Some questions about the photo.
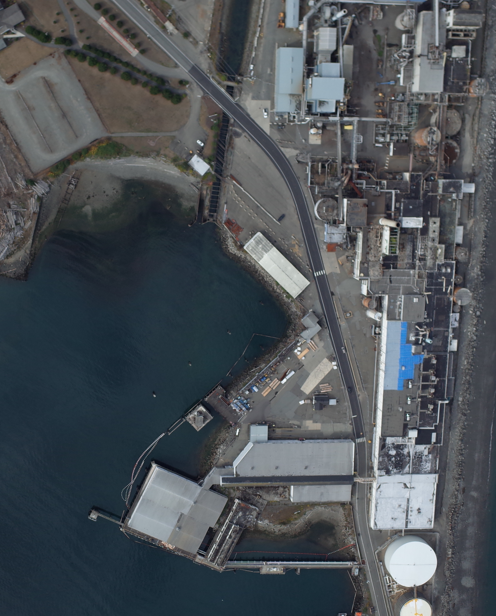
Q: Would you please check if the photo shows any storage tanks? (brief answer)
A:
Yes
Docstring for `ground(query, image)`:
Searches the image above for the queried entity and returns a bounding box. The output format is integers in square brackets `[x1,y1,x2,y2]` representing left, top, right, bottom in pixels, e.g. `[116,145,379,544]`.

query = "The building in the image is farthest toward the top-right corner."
[446,9,485,31]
